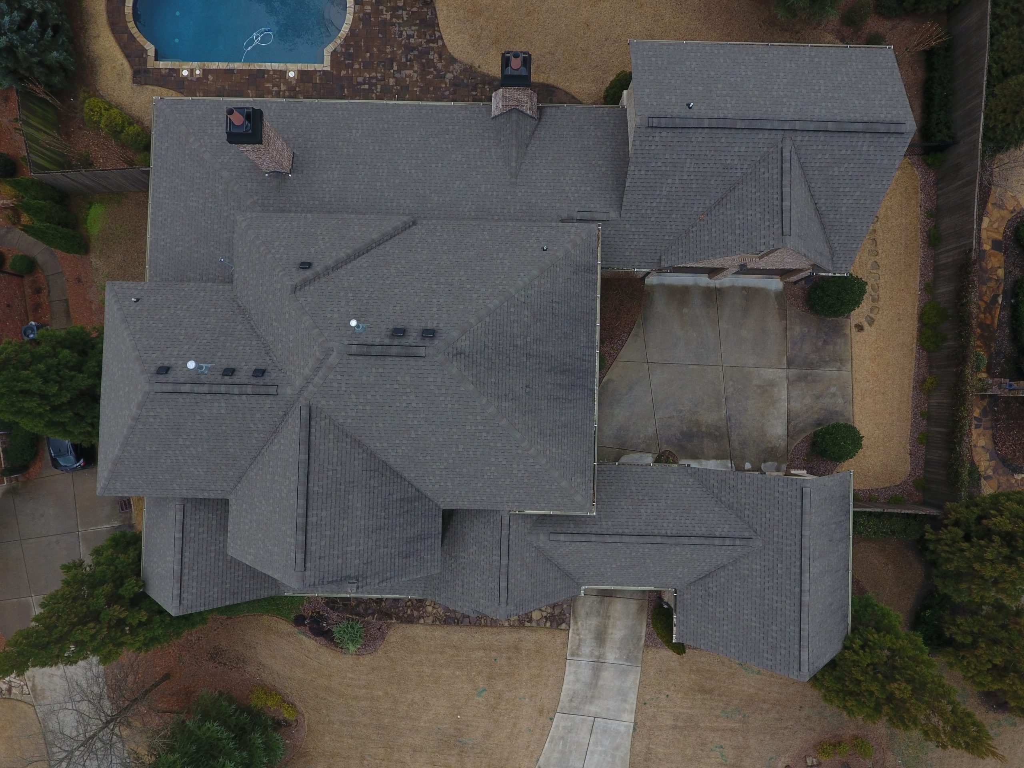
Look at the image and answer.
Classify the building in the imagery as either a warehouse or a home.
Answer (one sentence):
The building can be classified as a home.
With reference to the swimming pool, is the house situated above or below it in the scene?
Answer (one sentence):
Within the scene, the house can be found below the swimming pool.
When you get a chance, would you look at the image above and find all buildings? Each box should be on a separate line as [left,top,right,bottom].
[96,38,918,682]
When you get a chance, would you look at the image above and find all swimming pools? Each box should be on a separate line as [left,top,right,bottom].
[125,0,354,70]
